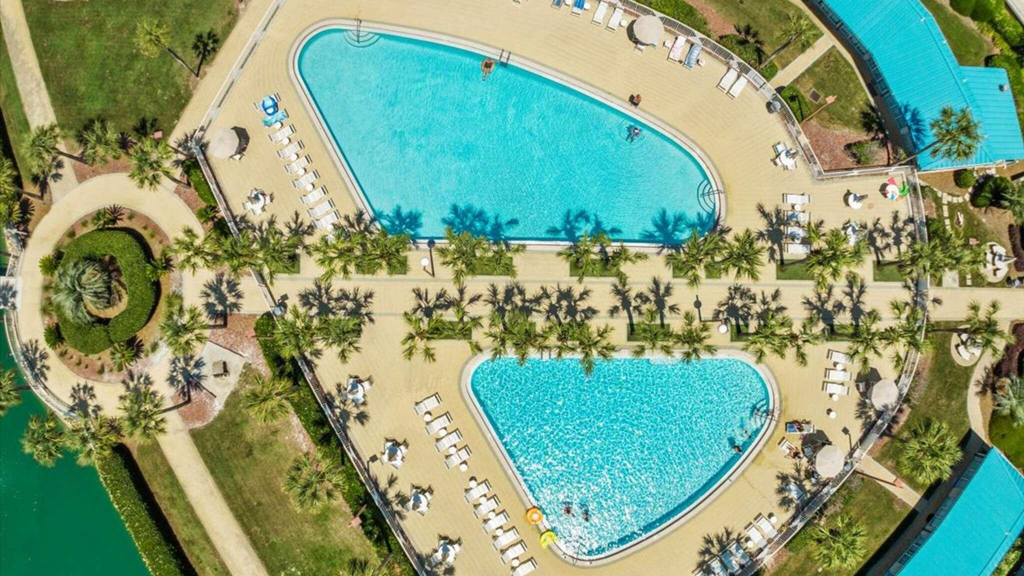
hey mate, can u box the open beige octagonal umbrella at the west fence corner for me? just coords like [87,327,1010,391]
[207,127,243,163]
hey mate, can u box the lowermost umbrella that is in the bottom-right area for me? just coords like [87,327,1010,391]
[810,442,847,479]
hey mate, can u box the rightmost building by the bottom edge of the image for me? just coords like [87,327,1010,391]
[880,446,1024,576]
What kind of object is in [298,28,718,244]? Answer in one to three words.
swimming pool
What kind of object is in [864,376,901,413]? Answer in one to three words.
umbrella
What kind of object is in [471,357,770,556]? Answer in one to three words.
swimming pool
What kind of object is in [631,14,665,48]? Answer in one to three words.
umbrella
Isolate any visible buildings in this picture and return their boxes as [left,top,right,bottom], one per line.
[880,446,1024,576]
[802,0,1024,171]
